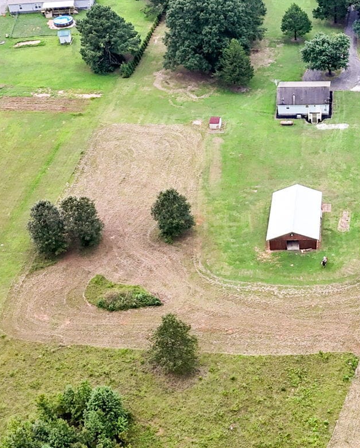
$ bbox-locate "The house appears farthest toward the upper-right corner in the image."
[275,81,332,125]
